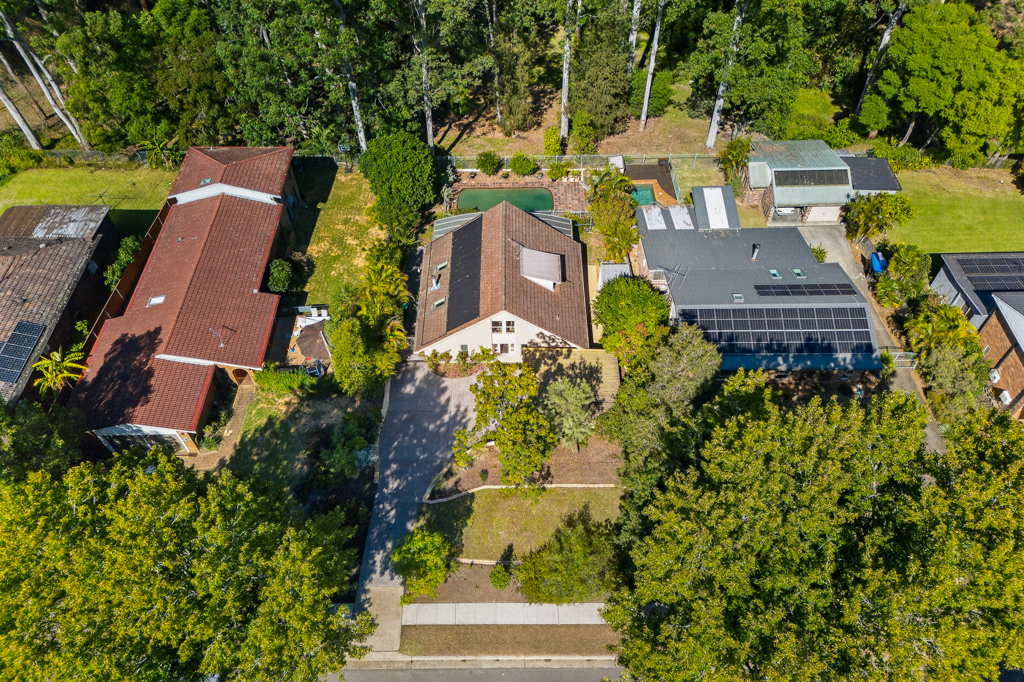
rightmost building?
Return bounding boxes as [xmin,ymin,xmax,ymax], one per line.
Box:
[930,254,1024,426]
